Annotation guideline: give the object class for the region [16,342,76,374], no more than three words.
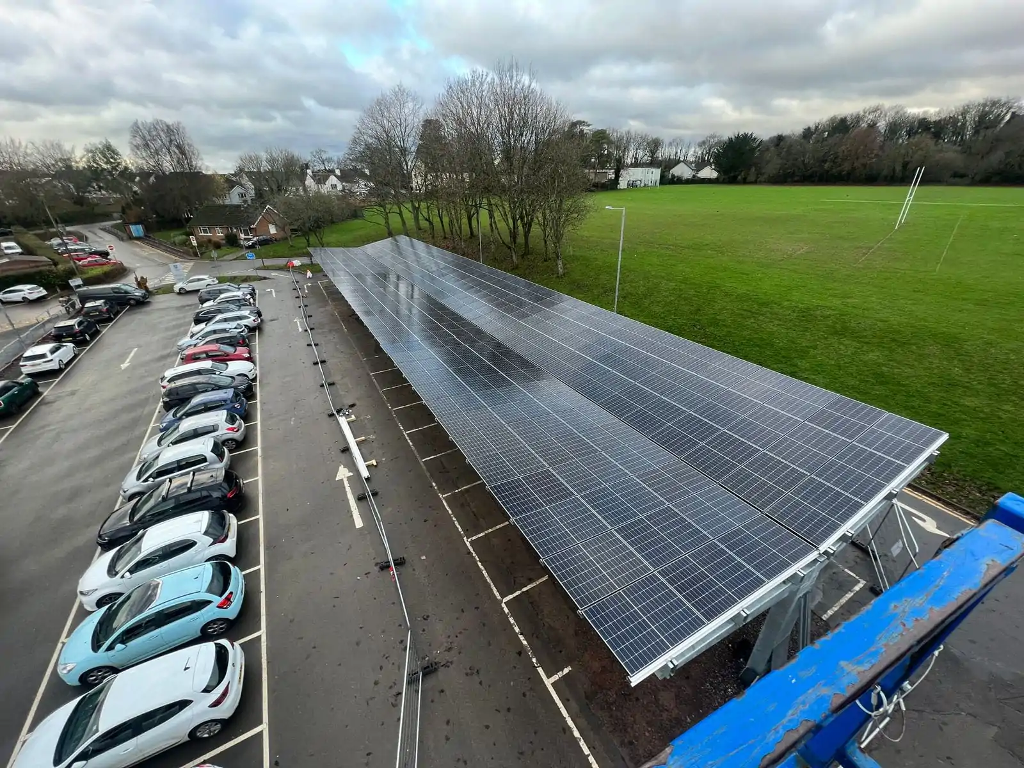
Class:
car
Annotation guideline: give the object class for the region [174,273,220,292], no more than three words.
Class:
car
